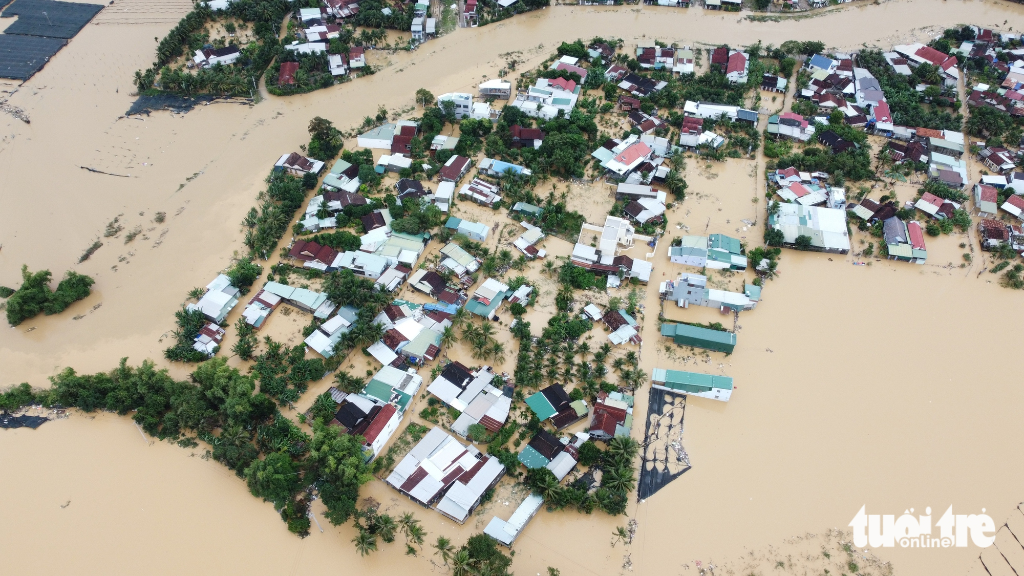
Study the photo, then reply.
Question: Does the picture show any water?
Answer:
Yes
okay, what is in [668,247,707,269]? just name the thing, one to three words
house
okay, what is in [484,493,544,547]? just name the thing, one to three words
shed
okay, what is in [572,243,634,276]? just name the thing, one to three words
house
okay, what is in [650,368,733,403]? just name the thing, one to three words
building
